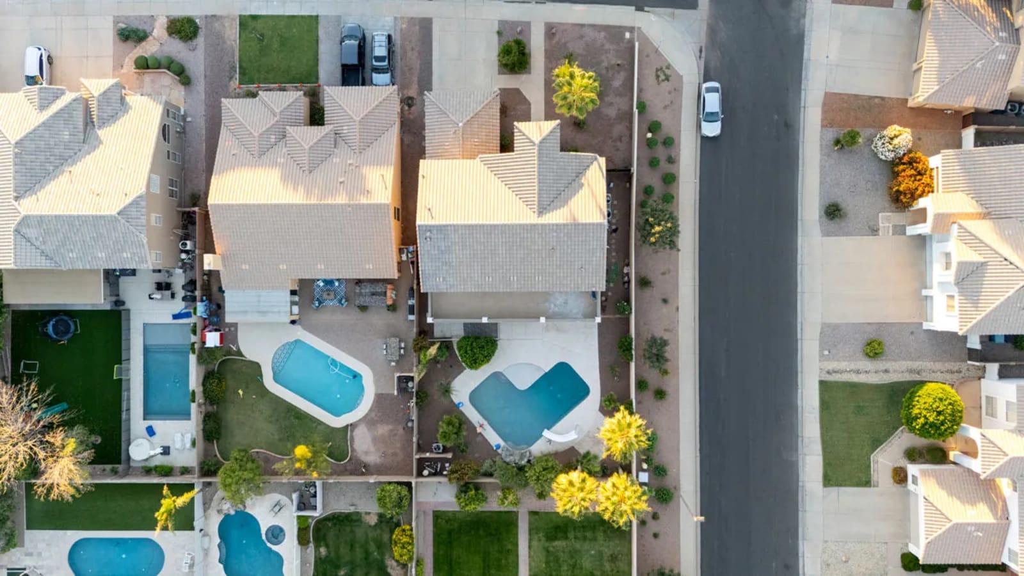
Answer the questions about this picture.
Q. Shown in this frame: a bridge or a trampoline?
trampoline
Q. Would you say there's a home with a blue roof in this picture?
No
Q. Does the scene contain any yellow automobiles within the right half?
No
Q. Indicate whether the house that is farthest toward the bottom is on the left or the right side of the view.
right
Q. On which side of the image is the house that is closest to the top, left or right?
right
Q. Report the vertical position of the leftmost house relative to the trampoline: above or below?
above it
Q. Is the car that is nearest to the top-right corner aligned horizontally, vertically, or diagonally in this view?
vertically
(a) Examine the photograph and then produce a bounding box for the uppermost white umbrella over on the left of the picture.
[130,438,175,461]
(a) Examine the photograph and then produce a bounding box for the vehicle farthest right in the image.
[701,80,727,136]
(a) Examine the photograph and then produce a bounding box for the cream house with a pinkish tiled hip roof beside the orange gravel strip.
[909,0,1024,110]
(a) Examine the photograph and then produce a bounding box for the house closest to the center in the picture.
[417,89,607,322]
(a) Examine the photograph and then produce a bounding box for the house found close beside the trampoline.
[0,78,183,305]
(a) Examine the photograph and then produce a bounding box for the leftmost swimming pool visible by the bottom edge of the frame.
[65,535,167,576]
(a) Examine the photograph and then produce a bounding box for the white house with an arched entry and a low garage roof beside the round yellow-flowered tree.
[907,379,1024,576]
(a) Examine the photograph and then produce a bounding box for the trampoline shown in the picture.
[36,312,79,342]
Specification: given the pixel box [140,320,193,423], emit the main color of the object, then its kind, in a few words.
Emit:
blue swimming pool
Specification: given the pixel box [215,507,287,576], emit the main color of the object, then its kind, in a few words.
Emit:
blue swimming pool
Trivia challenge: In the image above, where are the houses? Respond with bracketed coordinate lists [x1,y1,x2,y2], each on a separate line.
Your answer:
[909,0,1024,110]
[417,89,607,322]
[203,85,401,322]
[0,78,183,305]
[907,142,1024,348]
[907,379,1024,576]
